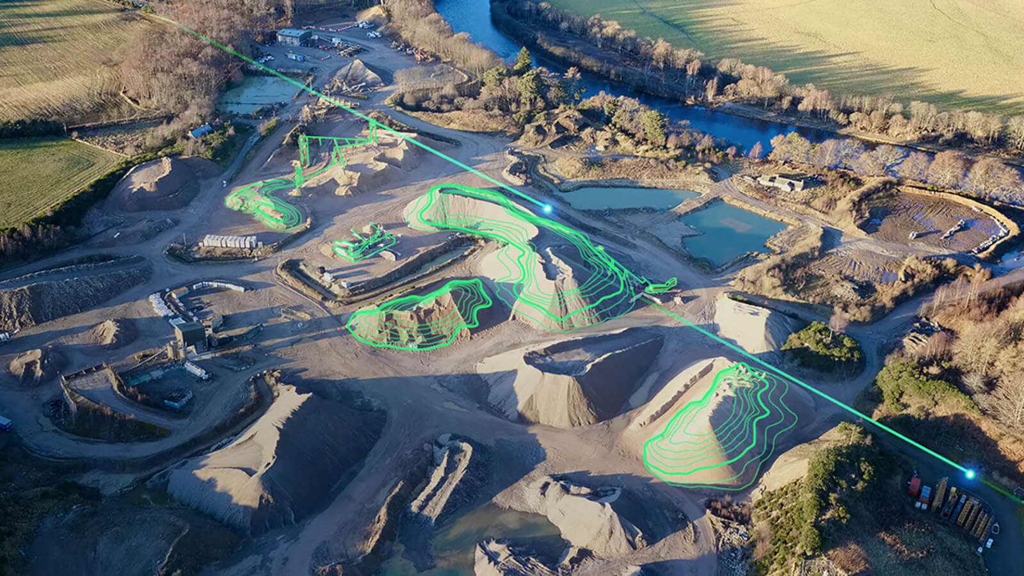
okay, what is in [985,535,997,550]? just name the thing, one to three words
vehicle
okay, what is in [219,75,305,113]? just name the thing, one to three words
pond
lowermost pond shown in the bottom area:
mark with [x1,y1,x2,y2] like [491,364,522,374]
[378,504,557,576]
